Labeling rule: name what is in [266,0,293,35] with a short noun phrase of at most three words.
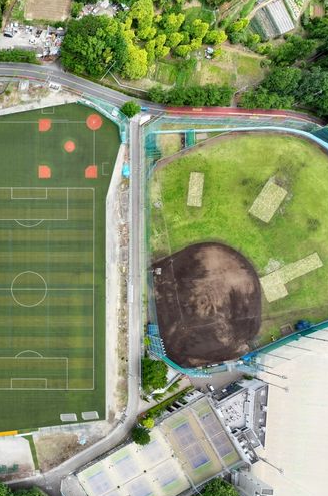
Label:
greenhouse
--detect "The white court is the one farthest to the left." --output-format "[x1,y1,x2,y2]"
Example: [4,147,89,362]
[79,426,196,496]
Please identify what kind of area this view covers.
sports ground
